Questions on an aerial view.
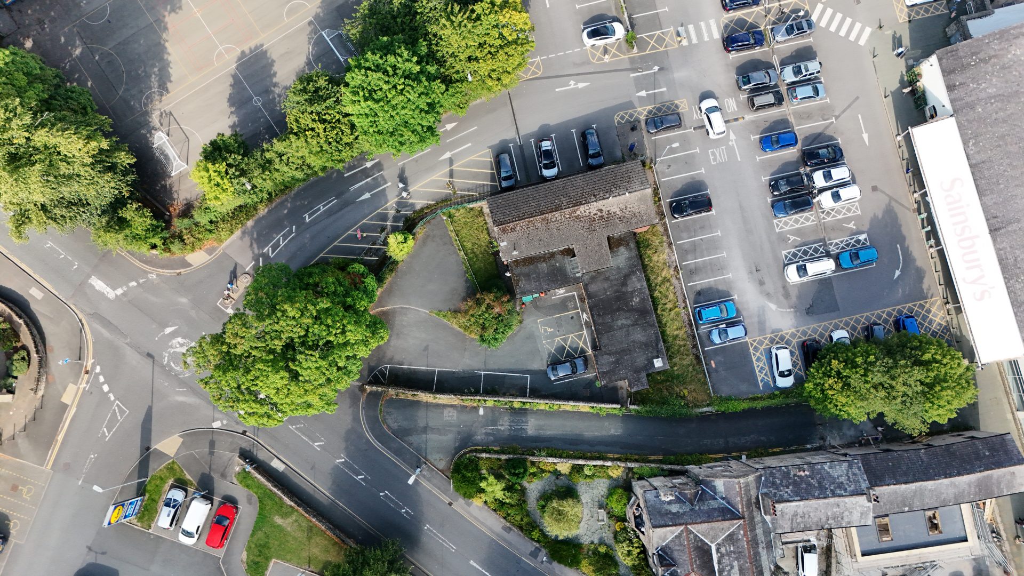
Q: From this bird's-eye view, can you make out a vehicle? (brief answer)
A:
Yes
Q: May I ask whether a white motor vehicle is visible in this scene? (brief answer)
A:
Yes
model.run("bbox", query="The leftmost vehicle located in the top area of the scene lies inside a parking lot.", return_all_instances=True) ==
[497,153,517,189]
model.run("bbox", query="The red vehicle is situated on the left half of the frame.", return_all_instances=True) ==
[207,502,237,548]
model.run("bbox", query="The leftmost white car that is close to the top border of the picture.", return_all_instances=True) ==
[581,20,625,47]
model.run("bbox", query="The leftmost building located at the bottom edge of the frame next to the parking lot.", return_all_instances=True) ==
[623,465,777,576]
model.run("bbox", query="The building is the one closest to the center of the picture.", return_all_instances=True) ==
[486,161,669,392]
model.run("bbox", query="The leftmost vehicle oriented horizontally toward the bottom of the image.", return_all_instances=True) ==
[546,356,589,380]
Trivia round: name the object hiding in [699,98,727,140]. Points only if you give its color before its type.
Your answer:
white car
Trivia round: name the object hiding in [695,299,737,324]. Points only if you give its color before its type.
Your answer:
blue car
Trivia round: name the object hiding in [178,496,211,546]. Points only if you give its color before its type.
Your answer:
white van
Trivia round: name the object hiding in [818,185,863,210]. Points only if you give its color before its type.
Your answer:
white car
